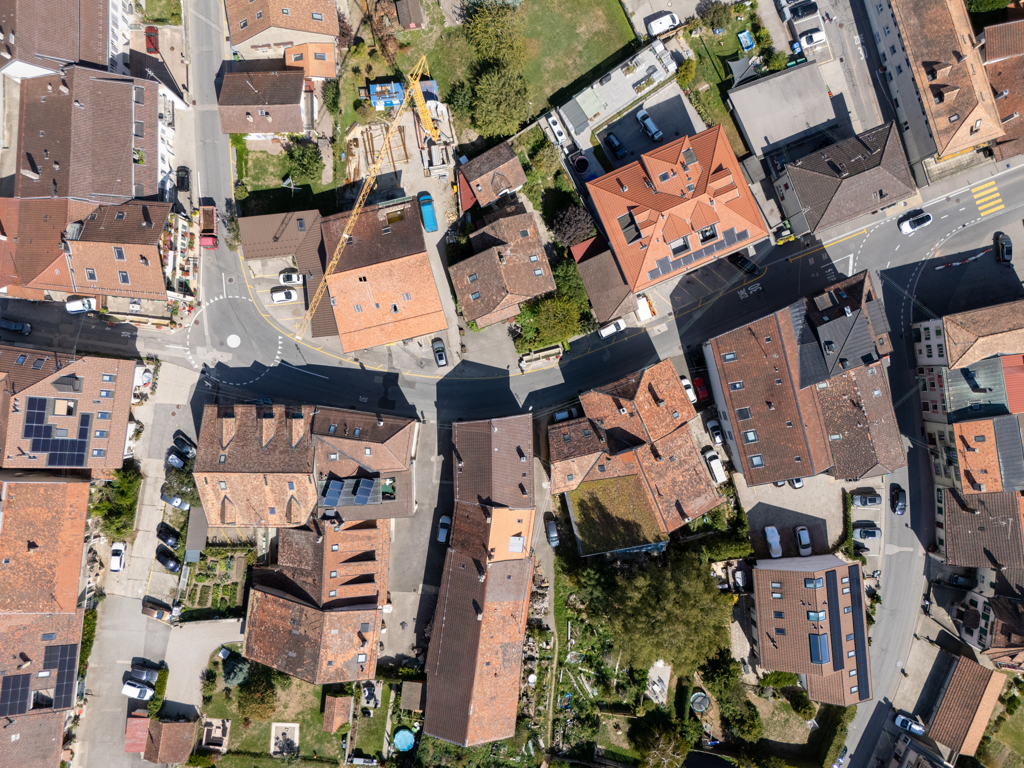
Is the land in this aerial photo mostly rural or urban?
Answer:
urban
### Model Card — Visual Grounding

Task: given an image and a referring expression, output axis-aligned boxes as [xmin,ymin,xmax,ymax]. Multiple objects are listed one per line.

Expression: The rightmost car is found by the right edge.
[995,234,1014,265]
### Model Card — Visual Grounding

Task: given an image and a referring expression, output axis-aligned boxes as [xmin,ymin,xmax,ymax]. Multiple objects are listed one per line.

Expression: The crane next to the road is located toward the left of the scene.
[294,55,452,339]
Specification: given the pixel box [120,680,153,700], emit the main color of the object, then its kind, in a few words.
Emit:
white vehicle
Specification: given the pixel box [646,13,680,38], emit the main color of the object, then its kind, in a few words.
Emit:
white vehicle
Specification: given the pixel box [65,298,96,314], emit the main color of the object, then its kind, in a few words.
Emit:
white car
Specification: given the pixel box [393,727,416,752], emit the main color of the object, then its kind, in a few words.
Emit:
blue swimming pool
